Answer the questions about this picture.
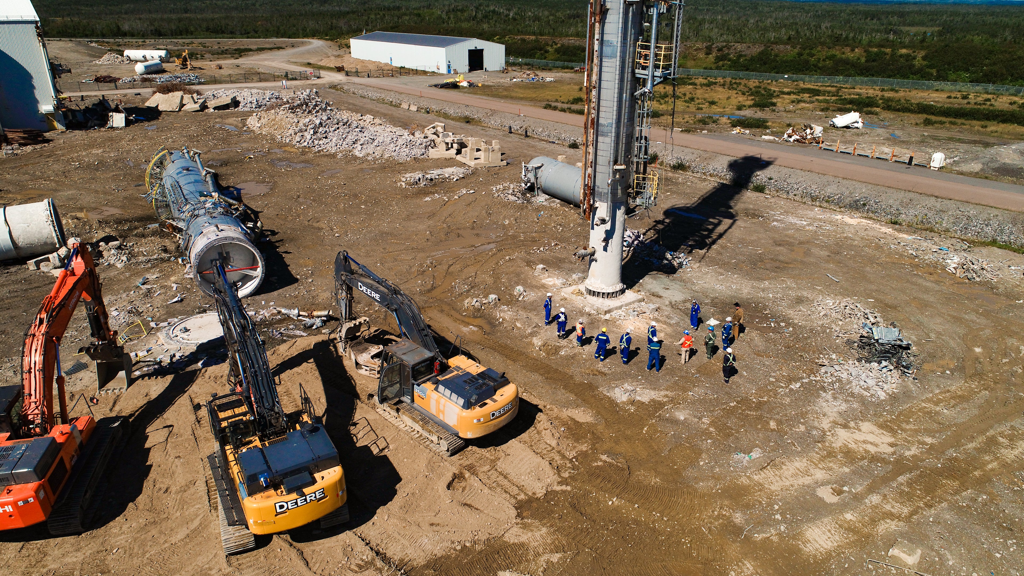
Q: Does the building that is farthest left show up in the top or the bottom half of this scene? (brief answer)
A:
top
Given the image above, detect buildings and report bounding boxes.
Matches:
[0,0,101,131]
[353,30,507,73]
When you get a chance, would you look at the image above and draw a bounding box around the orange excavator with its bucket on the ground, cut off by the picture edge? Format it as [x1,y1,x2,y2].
[0,237,136,521]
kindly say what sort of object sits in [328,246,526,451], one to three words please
work vehicle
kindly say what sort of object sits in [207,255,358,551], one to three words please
work vehicle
